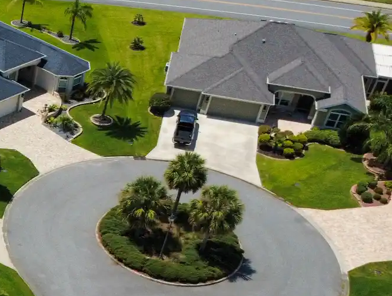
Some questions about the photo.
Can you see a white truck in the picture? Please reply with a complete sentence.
No, no white truck can be seen from above.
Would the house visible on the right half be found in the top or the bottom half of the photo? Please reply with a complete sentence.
The house visible on the right half sits in the top half of the picture.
